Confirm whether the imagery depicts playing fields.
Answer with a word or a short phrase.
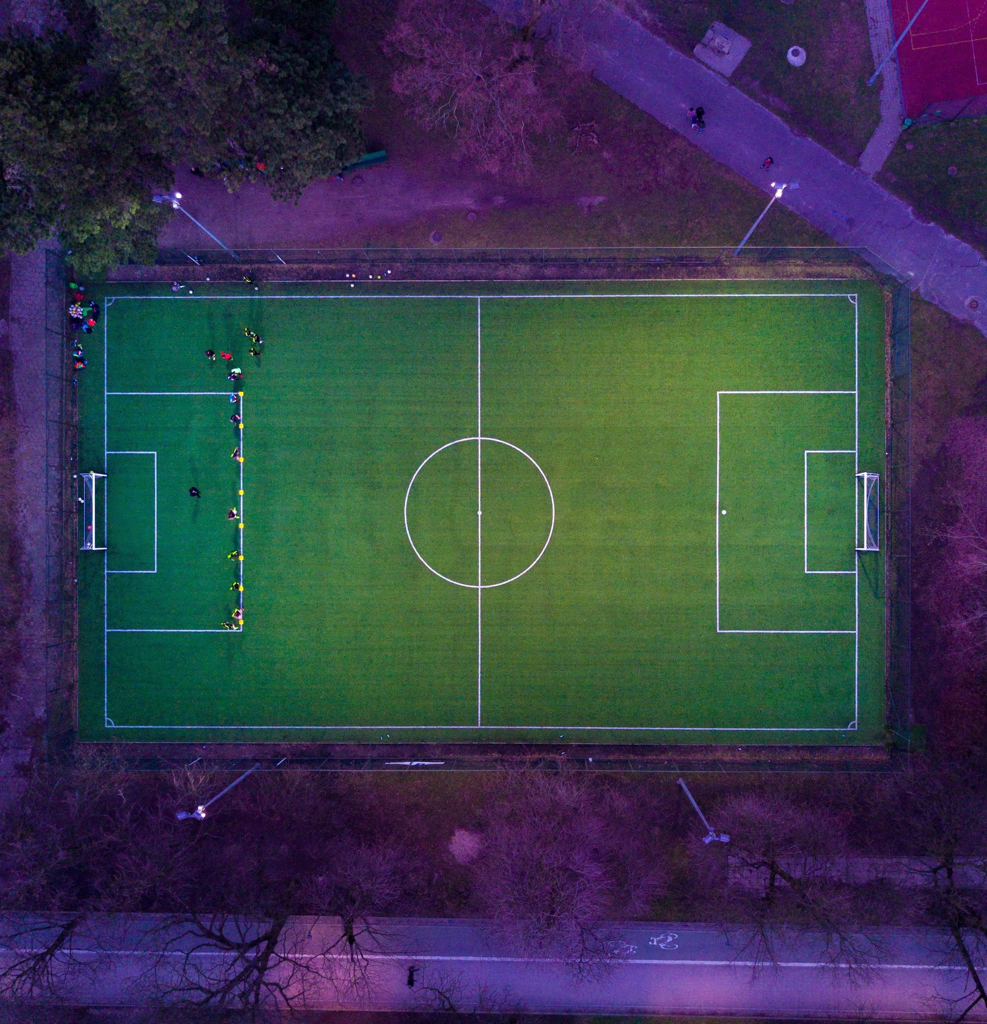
Yes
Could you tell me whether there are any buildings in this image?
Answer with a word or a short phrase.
No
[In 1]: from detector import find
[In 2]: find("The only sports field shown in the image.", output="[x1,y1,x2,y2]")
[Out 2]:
[77,279,886,745]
